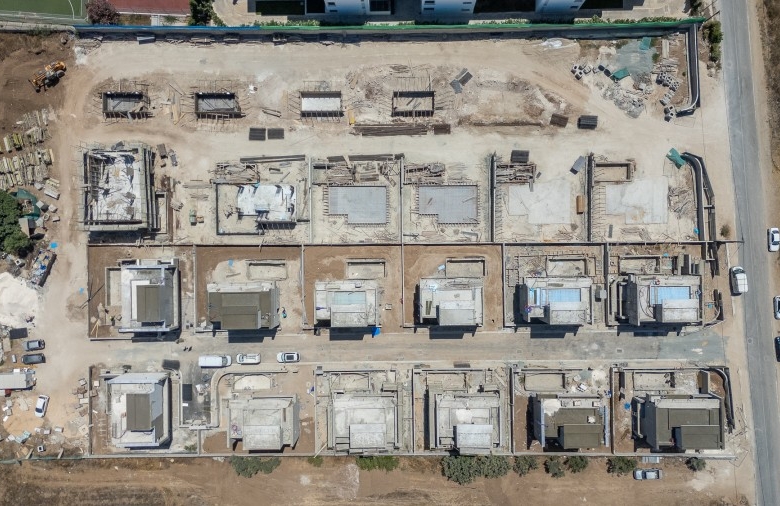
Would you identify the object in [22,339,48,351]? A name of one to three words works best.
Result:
vehicle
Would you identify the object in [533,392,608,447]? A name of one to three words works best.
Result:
house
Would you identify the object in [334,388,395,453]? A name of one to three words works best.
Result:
house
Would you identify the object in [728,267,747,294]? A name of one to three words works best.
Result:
vehicle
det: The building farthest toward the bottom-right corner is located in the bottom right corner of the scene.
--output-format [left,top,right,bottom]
[637,392,720,447]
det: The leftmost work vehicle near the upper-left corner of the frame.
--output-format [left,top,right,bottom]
[31,65,69,92]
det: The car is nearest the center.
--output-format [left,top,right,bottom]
[277,351,301,363]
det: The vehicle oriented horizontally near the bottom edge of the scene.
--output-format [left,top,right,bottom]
[632,467,661,481]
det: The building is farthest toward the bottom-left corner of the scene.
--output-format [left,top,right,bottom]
[110,374,174,447]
